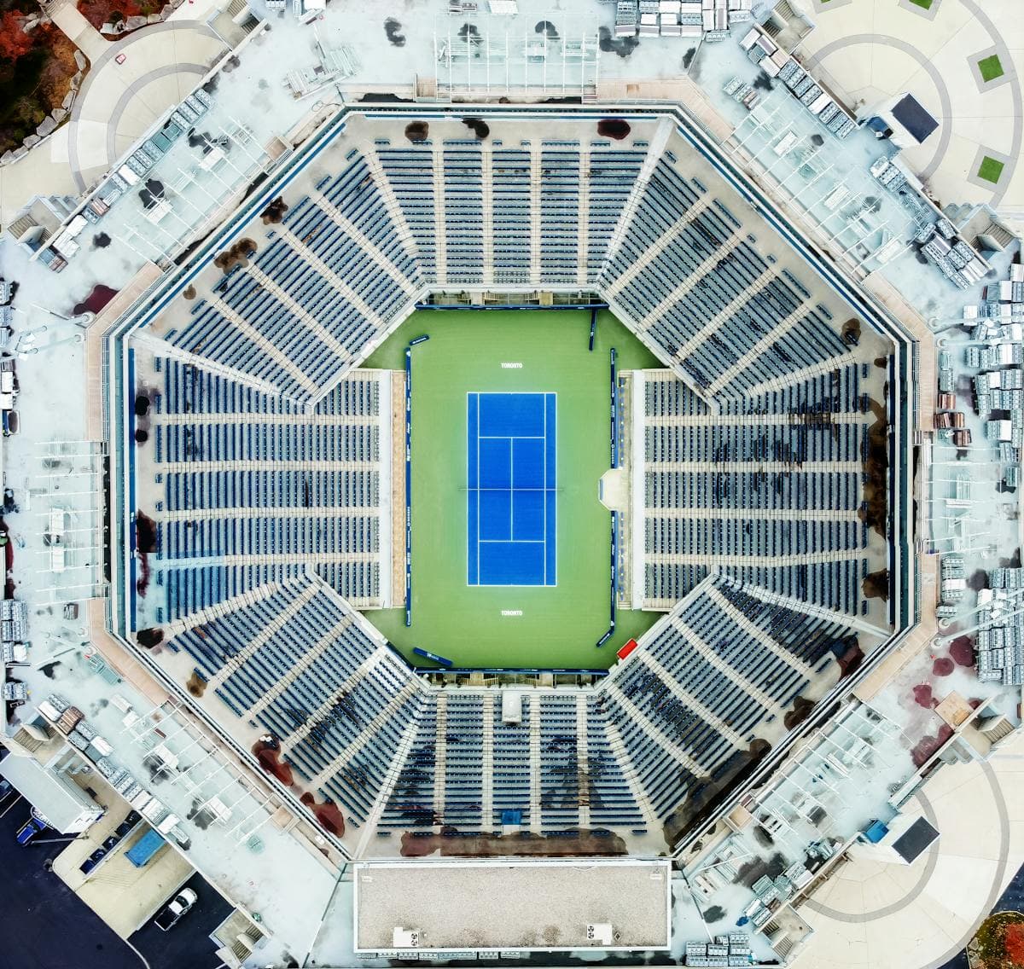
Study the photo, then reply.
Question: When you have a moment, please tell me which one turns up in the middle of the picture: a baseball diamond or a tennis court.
tennis court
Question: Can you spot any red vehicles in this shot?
No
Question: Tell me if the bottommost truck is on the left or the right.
left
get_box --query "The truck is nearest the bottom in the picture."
[153,887,202,932]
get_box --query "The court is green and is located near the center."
[358,292,666,686]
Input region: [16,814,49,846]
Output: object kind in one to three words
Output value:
truck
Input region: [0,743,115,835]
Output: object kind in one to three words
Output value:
building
